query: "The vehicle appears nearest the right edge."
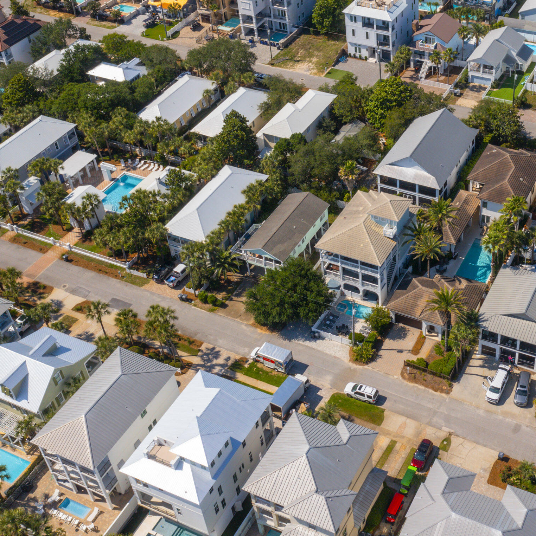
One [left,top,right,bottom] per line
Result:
[513,375,533,409]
